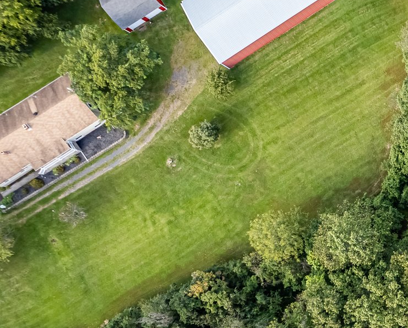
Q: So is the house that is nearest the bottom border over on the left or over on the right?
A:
left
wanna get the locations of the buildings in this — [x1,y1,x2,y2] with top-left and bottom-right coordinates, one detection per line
[100,0,167,34]
[181,0,336,68]
[0,73,104,185]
